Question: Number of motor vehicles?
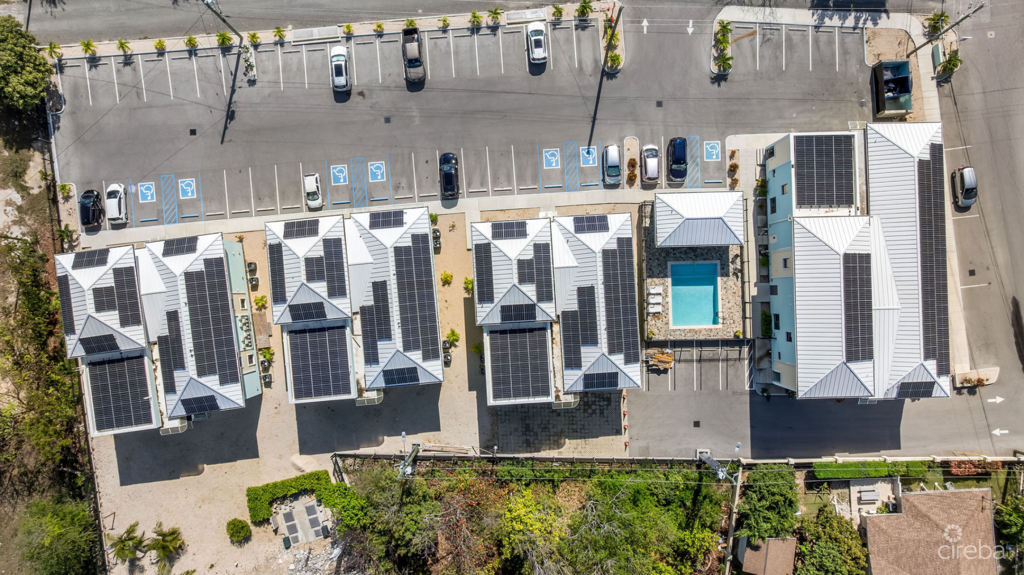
11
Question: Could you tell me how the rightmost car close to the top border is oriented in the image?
from top to bottom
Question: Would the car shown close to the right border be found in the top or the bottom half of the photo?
top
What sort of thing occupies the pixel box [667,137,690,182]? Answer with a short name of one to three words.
car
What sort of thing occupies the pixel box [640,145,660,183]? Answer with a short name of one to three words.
car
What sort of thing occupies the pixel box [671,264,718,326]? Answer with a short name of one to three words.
swimming pool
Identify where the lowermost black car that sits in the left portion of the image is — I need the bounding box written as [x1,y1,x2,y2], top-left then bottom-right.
[77,191,107,228]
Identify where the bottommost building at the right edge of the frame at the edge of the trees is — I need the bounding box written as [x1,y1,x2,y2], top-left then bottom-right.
[857,485,999,575]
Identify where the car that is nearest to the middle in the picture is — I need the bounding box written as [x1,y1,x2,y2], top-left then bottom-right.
[437,153,460,200]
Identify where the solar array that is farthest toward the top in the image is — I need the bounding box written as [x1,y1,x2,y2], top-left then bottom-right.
[796,136,853,207]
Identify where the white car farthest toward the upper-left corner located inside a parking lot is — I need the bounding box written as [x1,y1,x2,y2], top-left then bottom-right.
[104,184,130,224]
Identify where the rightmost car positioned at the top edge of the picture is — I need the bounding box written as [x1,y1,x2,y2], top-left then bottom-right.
[526,22,548,65]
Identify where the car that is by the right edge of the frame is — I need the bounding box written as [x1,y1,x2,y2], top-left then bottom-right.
[949,167,976,206]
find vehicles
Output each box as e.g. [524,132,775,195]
[526,22,548,65]
[104,184,130,224]
[949,167,976,206]
[667,137,690,182]
[77,191,107,228]
[437,153,460,200]
[640,145,660,183]
[303,173,324,209]
[401,27,425,83]
[602,145,624,185]
[327,46,353,92]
